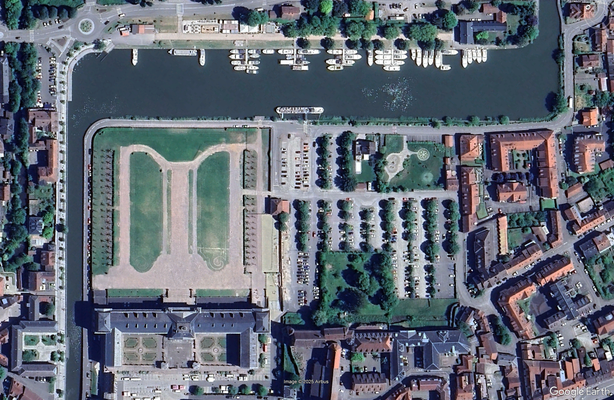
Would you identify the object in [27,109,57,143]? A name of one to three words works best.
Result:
building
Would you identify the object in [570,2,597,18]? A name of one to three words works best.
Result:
house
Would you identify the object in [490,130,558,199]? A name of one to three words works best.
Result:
building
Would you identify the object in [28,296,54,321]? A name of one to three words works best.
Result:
house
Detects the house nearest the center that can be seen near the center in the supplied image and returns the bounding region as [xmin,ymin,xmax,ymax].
[270,198,290,214]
